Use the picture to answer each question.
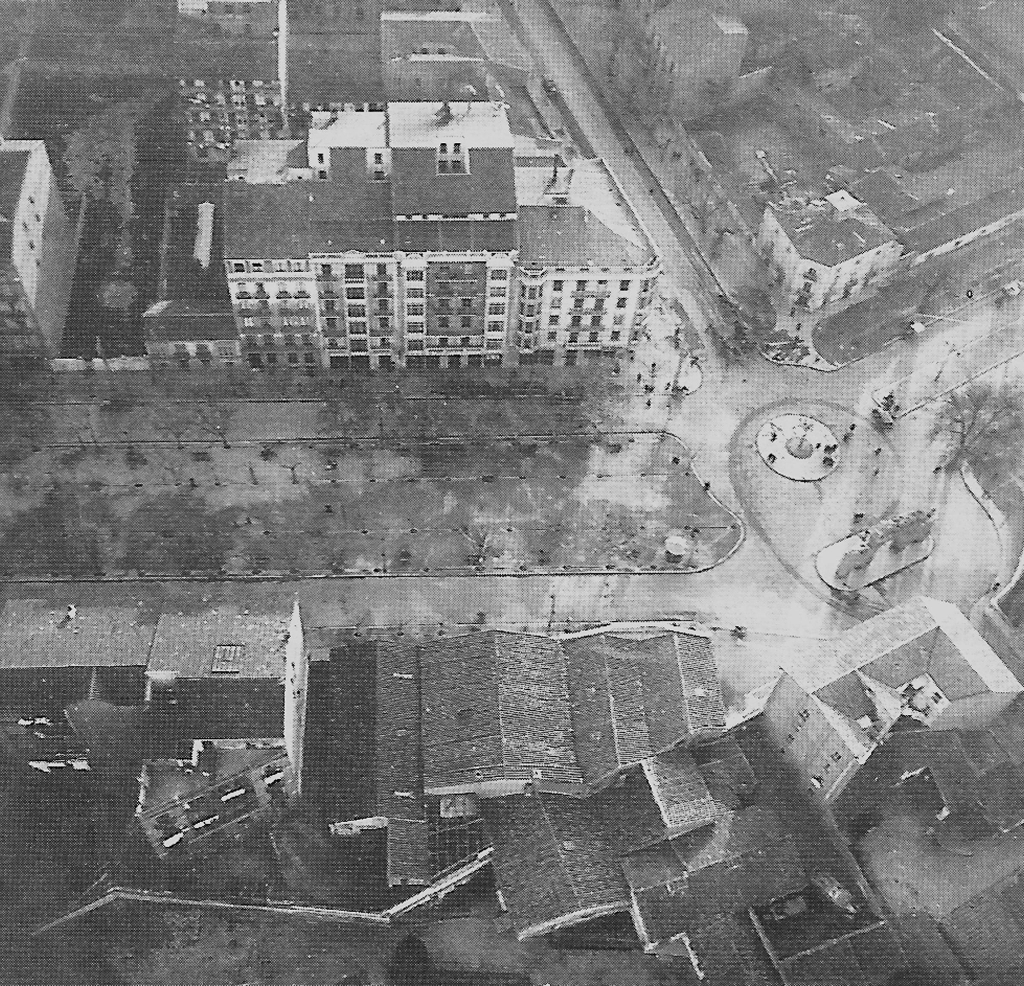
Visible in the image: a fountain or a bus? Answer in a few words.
fountain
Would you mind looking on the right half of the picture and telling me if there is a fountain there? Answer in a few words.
Yes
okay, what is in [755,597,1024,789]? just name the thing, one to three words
building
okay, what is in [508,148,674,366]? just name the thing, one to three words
building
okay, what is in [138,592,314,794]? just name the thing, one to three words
house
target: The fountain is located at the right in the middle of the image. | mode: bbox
[785,435,817,461]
